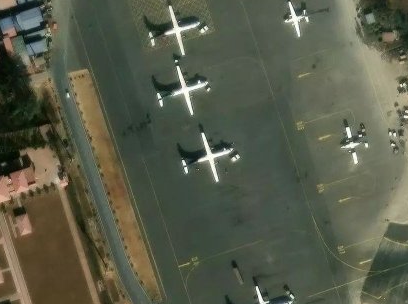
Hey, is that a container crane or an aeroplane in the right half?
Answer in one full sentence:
Looking in the right half, you will find an aeroplane.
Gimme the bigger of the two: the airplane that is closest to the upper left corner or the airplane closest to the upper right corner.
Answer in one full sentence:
The airplane closest to the upper right corner is smaller than the airplane that is closest to the upper left corner.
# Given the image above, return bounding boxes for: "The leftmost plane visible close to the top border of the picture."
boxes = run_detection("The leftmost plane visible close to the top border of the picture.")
[149,6,200,56]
